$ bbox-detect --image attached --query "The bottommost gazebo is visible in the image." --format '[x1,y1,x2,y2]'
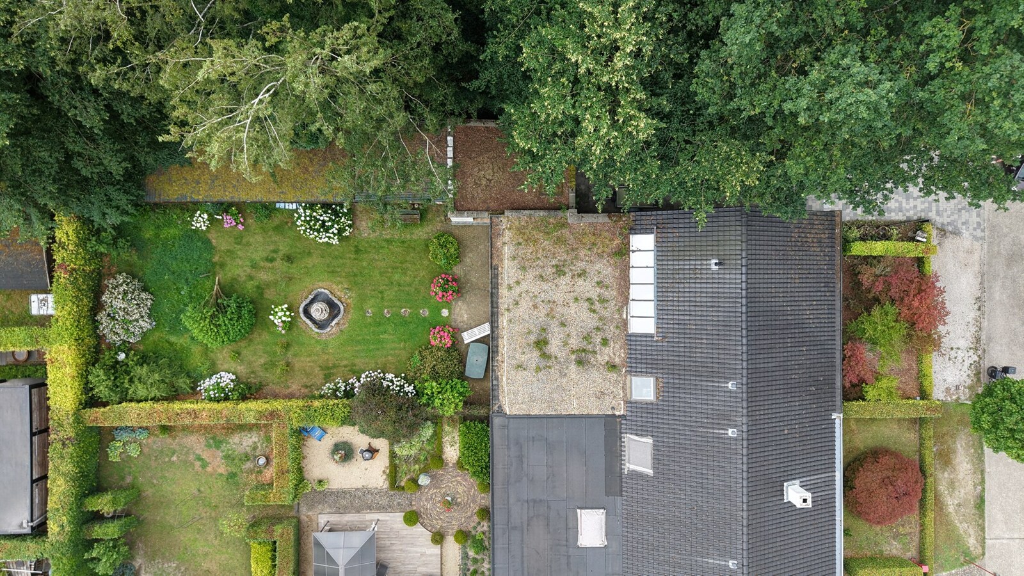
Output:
[313,519,379,576]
